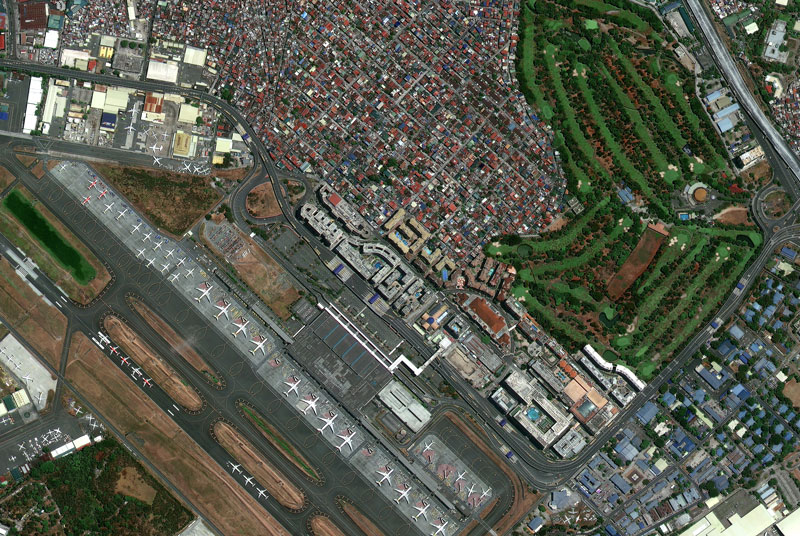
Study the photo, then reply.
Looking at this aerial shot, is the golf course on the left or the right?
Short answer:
right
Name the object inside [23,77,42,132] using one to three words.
building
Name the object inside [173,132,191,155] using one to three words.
hangar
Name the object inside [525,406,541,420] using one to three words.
swimming pool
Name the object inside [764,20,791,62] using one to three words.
building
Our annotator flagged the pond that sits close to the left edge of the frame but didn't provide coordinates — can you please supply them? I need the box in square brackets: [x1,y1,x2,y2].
[3,189,91,284]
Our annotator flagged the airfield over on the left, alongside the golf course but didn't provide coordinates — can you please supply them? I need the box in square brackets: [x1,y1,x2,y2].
[0,136,529,536]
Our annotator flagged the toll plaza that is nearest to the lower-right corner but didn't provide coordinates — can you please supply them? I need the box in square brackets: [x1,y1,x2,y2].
[707,317,723,334]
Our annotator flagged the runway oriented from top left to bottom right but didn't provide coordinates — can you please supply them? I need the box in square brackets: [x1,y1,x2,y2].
[0,228,311,536]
